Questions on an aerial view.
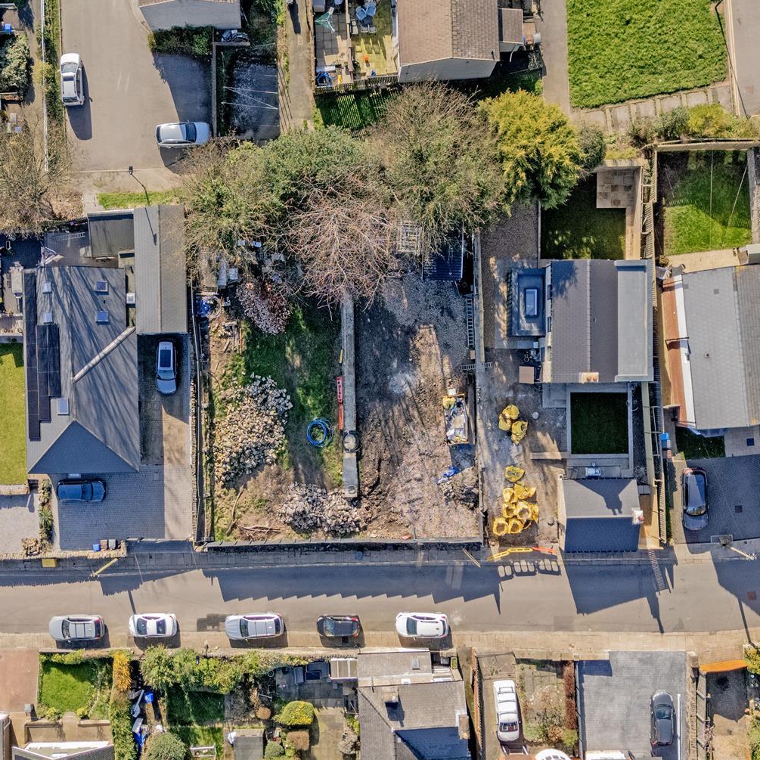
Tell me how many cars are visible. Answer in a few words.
twelve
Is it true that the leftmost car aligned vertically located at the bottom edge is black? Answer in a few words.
No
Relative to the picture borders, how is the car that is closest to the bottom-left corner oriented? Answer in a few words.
from left to right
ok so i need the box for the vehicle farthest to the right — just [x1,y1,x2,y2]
[680,472,711,528]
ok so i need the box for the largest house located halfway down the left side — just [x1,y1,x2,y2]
[8,267,140,478]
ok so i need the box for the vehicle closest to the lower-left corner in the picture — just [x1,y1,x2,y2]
[49,614,107,644]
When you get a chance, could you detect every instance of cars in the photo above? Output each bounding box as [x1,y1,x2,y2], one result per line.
[395,610,448,639]
[151,340,178,394]
[55,54,84,108]
[317,614,361,639]
[55,478,108,504]
[649,688,677,746]
[493,676,522,741]
[225,613,284,643]
[128,613,177,640]
[156,120,209,147]
[680,472,711,528]
[49,614,107,644]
